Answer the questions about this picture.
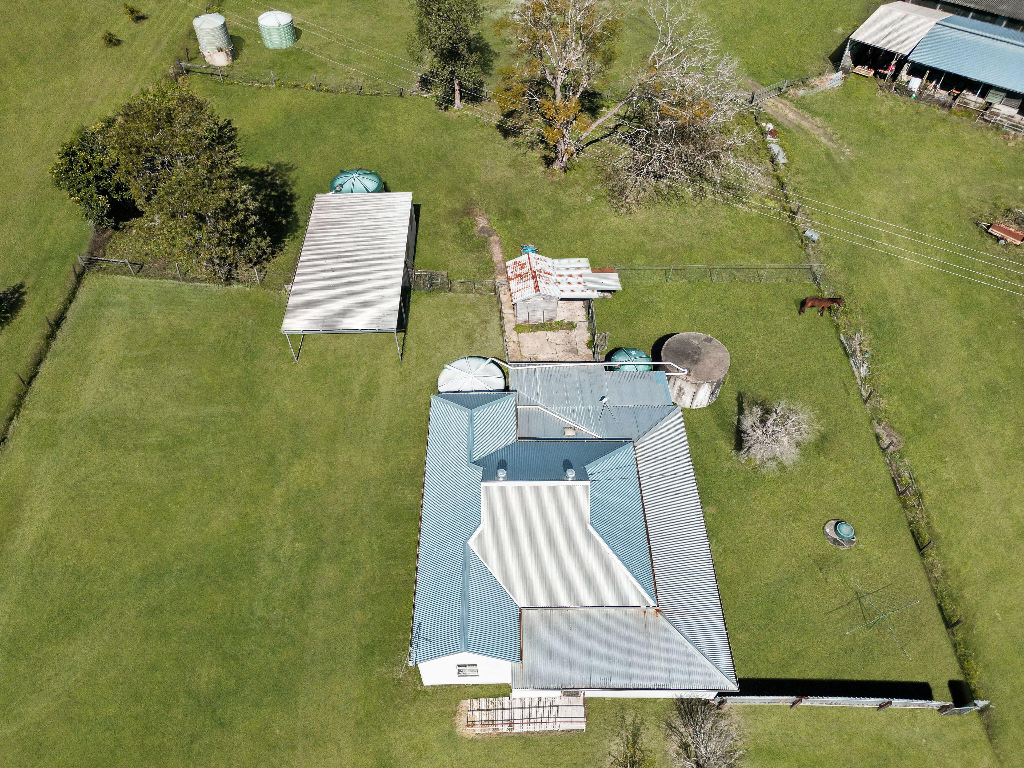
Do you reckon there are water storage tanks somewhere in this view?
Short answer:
Yes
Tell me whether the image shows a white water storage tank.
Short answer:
Yes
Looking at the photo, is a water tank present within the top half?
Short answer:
Yes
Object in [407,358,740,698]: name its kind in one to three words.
house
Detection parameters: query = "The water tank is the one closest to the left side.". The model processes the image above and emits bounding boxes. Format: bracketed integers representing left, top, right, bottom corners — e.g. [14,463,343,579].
[194,13,240,65]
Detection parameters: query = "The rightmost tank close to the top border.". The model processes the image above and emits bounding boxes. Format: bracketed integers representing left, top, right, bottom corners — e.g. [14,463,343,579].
[258,13,299,49]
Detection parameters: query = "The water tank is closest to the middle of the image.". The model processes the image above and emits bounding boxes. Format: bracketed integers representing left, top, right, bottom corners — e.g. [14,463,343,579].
[439,357,505,394]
